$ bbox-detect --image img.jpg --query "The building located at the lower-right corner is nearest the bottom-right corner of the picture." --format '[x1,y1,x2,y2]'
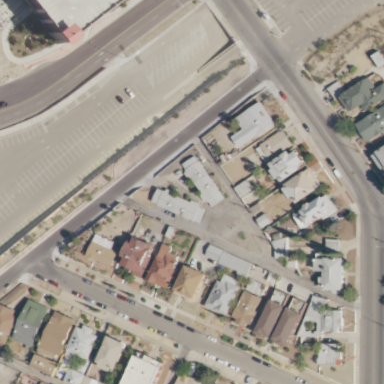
[317,346,341,366]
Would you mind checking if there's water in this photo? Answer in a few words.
No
